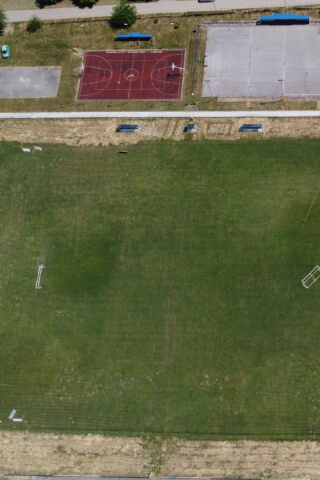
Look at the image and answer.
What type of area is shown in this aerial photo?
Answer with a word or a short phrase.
sports ground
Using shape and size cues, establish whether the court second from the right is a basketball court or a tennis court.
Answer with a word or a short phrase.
basketball court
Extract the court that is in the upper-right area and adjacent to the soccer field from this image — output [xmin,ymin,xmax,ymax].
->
[200,22,320,100]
